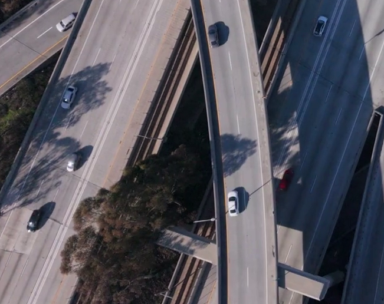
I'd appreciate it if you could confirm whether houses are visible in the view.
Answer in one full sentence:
No, I can't see a single house in this photo.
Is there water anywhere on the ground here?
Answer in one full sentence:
No, water can't be seen anywhere here.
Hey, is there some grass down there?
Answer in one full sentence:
No, the scene doesn't show any grass.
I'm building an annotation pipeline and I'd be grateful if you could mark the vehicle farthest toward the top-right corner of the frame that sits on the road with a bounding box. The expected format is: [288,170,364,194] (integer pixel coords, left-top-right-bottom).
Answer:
[313,14,326,38]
